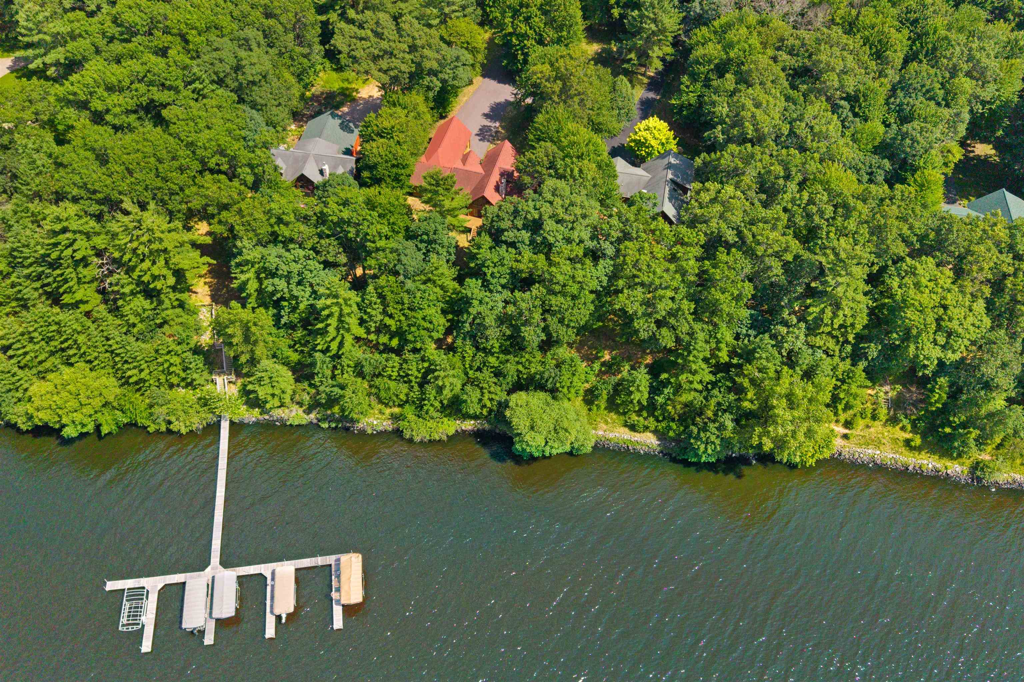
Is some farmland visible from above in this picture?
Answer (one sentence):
No, there is no farmland in the image.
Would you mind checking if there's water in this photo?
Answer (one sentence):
Yes, there's water in this view.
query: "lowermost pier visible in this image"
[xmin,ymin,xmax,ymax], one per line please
[103,420,354,653]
